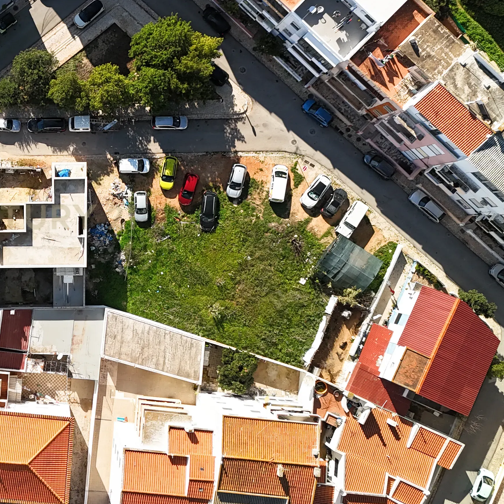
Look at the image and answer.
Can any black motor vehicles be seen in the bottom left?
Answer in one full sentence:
No, in the bottom left there is no black motor vehicle.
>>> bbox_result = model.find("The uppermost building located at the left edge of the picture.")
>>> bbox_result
[0,162,87,309]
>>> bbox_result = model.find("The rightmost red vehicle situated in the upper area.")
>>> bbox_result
[177,171,200,207]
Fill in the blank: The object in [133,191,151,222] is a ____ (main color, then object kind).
white car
